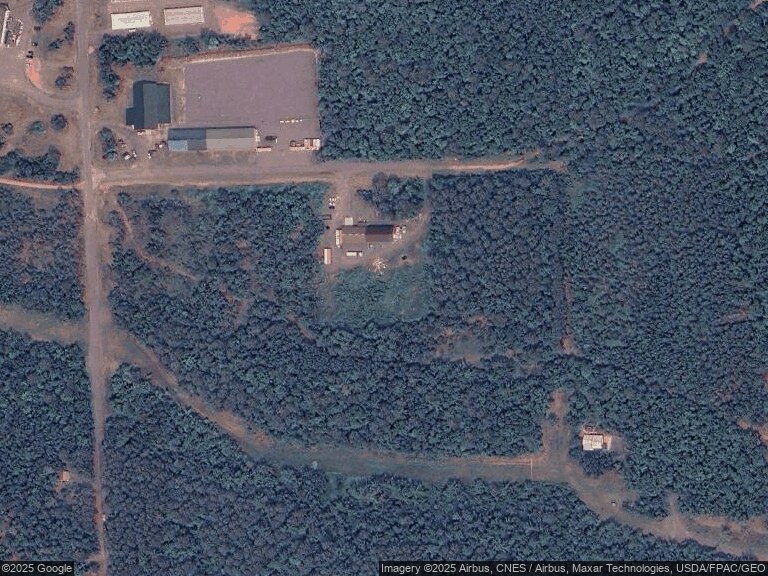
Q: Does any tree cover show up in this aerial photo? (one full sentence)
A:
Yes, some tree cover is visible.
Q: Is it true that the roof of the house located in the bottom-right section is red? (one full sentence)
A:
No, the roof of the house located in the bottom-right section is actually white.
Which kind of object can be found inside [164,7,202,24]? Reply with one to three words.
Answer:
barn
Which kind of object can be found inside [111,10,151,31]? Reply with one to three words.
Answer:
barn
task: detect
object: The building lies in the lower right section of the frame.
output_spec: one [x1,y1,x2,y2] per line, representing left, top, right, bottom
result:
[584,427,611,451]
